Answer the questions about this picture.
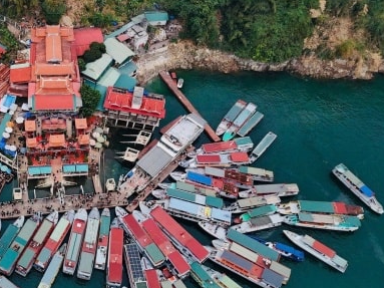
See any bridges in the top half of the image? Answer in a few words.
No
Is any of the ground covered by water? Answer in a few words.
Yes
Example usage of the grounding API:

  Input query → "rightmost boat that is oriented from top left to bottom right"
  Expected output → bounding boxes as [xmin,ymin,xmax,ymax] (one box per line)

[330,165,384,211]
